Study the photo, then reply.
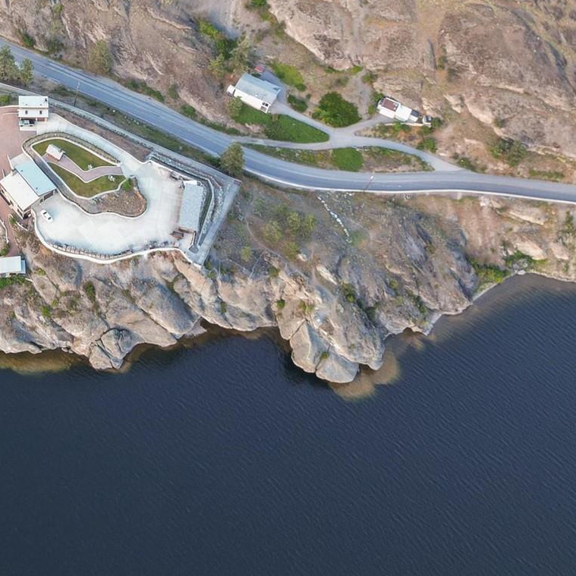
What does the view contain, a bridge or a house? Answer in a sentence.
Of the two, only a house appears.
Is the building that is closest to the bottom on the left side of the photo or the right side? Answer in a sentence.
It is on the left.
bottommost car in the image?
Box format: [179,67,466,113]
[40,209,53,223]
